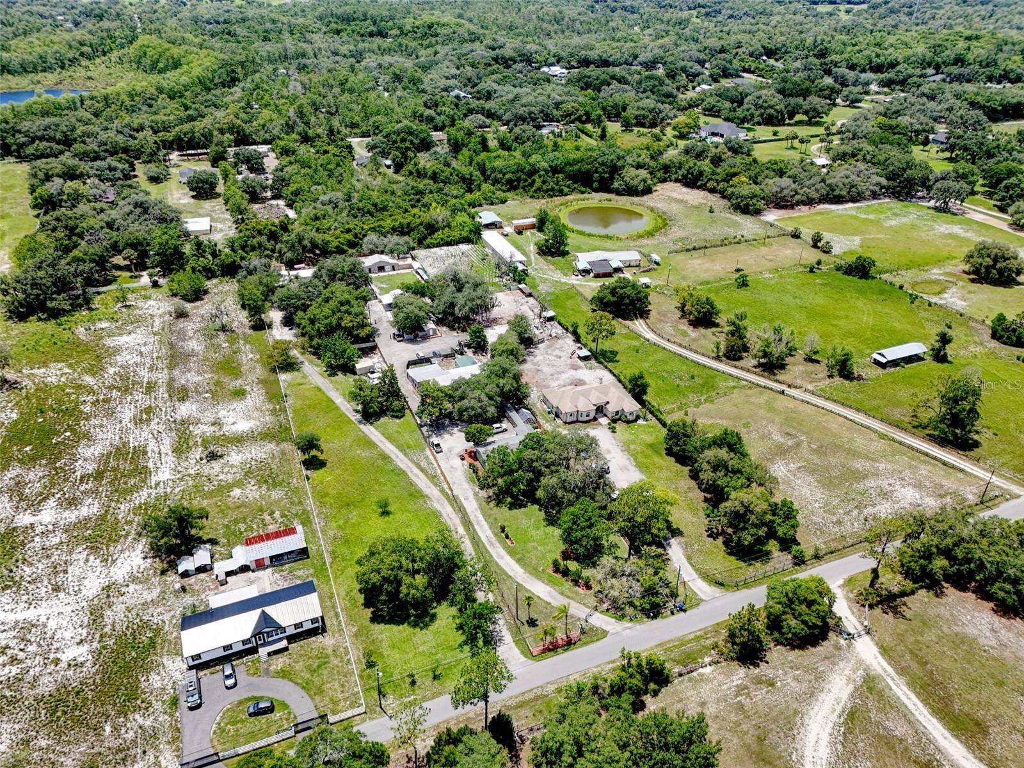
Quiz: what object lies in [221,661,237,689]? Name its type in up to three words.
car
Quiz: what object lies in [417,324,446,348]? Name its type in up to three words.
house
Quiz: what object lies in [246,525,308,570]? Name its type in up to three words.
barn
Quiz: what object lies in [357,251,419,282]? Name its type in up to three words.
building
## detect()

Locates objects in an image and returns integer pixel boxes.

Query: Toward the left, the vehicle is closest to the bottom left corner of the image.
[181,663,200,707]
